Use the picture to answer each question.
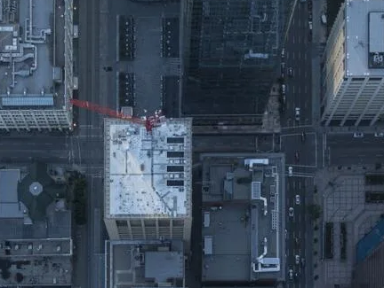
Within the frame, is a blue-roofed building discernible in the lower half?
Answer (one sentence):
Yes, looking in the lower half, one can make out a blue-roofed building.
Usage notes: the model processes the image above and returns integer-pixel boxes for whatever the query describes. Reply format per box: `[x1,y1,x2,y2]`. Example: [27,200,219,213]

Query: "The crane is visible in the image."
[72,95,169,126]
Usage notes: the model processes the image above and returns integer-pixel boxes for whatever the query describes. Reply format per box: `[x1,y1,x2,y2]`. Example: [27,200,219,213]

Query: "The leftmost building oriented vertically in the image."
[0,171,21,217]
